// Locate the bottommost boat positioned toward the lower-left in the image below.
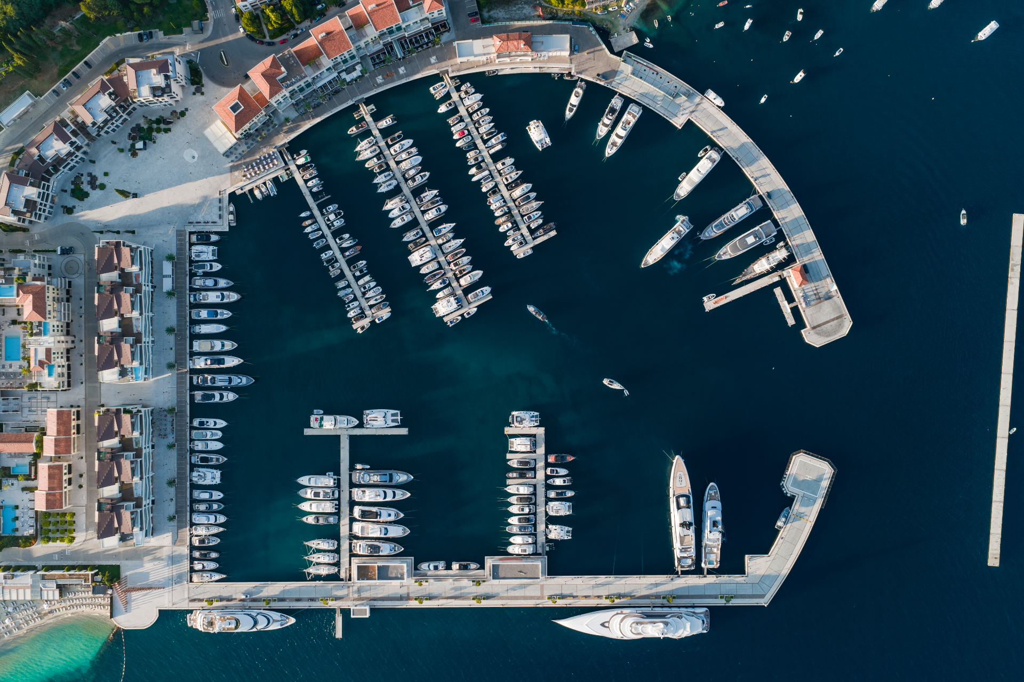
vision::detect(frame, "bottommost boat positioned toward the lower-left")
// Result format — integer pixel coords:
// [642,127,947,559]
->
[186,601,294,635]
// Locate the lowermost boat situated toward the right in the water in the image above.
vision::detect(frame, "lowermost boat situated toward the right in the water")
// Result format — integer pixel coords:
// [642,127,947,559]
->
[552,594,710,639]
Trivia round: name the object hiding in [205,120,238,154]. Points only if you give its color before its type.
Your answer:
white tent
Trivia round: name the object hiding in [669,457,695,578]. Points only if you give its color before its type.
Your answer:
white boat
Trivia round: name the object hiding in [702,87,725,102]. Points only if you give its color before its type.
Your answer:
white boat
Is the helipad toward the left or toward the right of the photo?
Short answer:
right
